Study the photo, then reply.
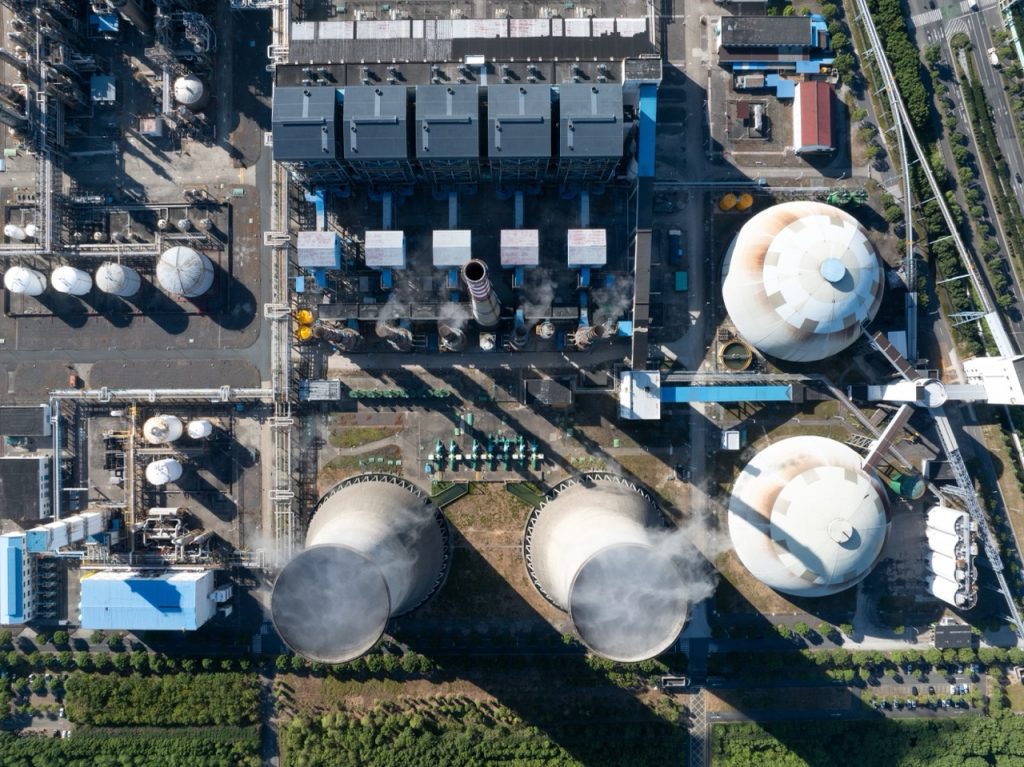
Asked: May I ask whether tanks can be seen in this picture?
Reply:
Yes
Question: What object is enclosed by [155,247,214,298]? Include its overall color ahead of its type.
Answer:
white storage tank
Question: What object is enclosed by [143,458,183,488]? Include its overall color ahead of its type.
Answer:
white storage tank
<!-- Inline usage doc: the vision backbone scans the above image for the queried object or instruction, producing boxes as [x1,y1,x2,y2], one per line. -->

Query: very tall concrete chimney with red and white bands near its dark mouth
[457,260,501,328]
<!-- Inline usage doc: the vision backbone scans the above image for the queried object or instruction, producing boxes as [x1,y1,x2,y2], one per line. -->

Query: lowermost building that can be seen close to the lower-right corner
[930,624,972,648]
